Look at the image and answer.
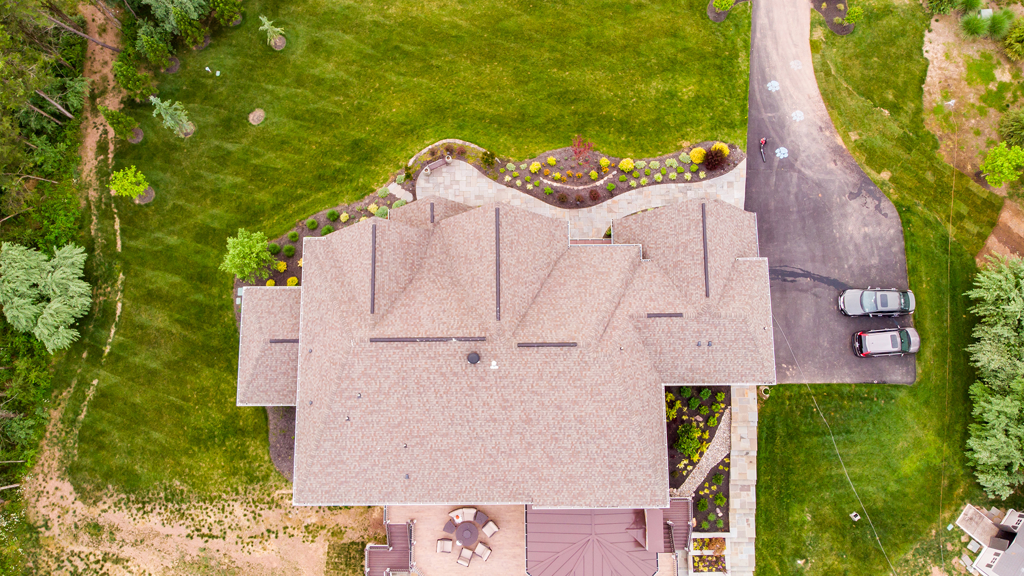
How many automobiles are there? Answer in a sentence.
The number of automobiles here is 2.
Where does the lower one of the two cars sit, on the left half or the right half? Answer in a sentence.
The lower one of the two cars is on the right side of the image.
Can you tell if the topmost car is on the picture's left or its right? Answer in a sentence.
You can find the topmost car on the right side of the picture.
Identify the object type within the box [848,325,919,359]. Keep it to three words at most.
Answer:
car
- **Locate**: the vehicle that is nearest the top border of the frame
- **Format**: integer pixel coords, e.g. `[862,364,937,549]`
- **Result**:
[835,285,915,319]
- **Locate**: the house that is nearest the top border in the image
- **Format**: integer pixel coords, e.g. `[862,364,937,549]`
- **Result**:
[234,197,778,510]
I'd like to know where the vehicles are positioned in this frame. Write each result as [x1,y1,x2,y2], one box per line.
[835,285,915,319]
[848,325,919,359]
